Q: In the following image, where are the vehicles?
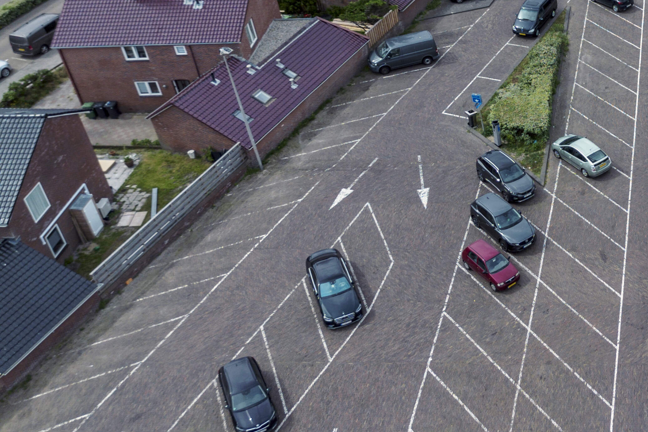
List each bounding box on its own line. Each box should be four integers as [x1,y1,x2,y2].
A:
[370,31,438,74]
[218,352,274,432]
[511,0,558,38]
[549,134,612,178]
[590,0,636,12]
[11,18,59,58]
[302,250,359,329]
[473,149,534,203]
[466,193,533,252]
[460,239,518,291]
